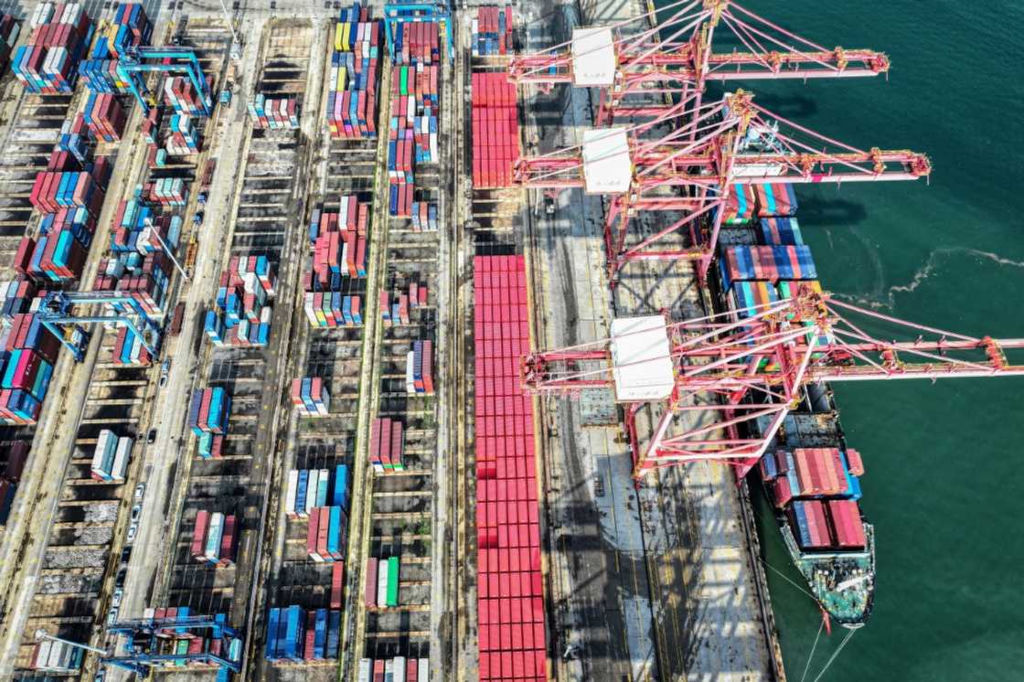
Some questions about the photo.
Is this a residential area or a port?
port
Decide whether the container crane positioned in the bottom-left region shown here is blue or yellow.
blue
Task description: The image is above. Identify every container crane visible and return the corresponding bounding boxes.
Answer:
[385,0,454,67]
[508,94,940,299]
[33,288,163,364]
[530,290,1024,503]
[503,0,897,193]
[96,621,245,681]
[116,44,215,118]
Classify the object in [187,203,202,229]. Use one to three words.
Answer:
vehicle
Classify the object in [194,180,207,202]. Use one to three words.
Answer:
vehicle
